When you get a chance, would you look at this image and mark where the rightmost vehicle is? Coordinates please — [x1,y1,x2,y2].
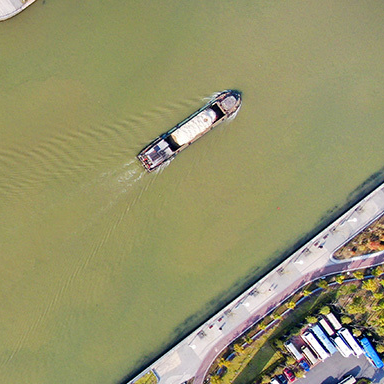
[356,337,384,367]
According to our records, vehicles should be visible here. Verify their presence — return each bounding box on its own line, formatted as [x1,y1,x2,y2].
[306,324,335,354]
[270,379,279,384]
[356,337,384,367]
[282,341,303,361]
[331,374,354,384]
[334,327,362,359]
[330,336,351,359]
[299,345,317,366]
[323,312,342,330]
[298,331,330,360]
[299,359,309,372]
[277,373,287,384]
[284,368,293,380]
[315,317,333,337]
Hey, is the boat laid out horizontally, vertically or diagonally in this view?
diagonally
